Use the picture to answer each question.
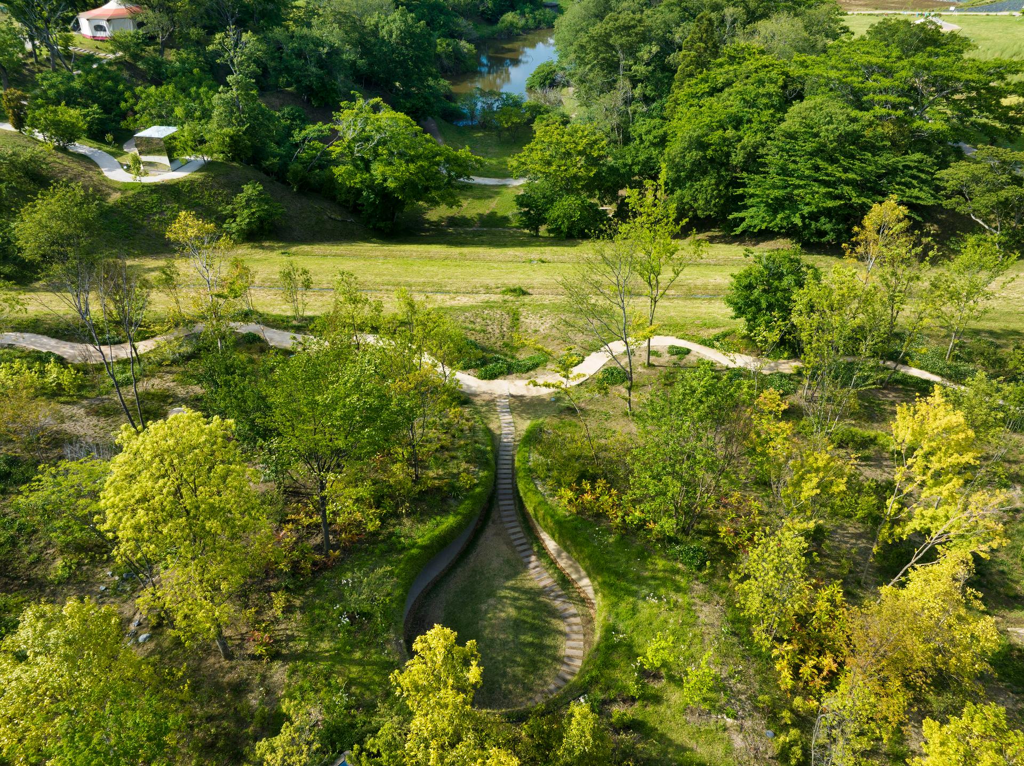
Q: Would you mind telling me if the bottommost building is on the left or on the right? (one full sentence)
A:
You can find the bottommost building on the left side of the picture.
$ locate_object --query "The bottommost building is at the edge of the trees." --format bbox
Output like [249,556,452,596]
[133,125,198,171]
